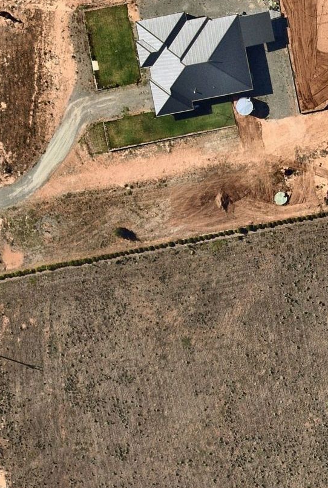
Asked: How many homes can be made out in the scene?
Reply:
1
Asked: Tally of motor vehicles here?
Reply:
none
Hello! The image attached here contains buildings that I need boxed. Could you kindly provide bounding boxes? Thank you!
[136,10,275,116]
